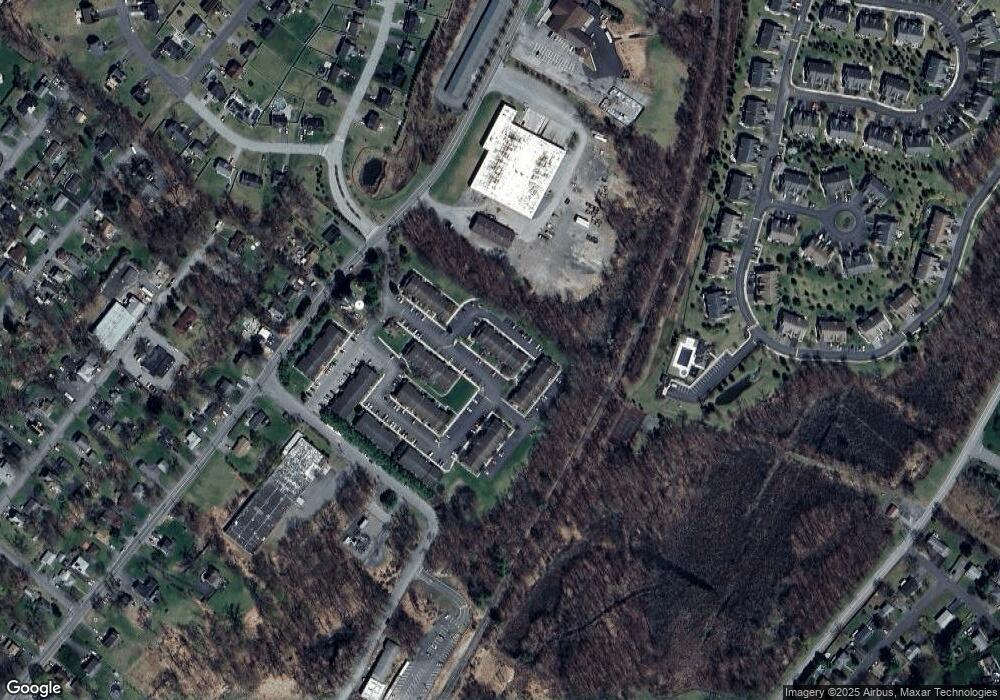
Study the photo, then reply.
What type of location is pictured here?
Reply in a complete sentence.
The picture captures a residential area.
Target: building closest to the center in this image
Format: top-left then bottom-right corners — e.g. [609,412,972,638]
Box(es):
[471,321,530,375]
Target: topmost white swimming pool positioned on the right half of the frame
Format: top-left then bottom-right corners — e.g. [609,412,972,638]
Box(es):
[673,337,696,377]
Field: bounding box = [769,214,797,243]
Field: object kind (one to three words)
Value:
house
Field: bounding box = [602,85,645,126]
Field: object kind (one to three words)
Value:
building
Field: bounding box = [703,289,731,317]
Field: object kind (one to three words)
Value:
house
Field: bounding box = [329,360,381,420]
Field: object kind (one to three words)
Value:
building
